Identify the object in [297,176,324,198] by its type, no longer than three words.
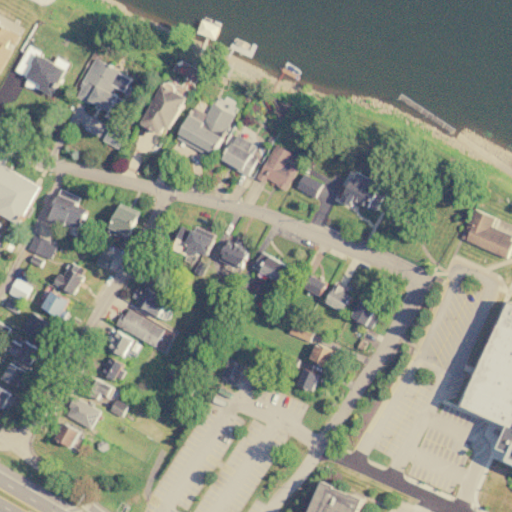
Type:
building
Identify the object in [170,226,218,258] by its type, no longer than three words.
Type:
house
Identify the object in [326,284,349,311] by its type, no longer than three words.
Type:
house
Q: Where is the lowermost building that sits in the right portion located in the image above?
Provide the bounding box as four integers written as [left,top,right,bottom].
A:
[310,482,370,512]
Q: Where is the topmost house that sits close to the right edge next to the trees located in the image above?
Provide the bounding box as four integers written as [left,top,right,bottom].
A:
[466,208,512,259]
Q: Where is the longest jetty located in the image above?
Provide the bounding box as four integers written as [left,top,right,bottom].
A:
[398,94,454,133]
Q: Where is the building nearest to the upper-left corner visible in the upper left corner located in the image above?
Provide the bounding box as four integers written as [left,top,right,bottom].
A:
[16,45,70,94]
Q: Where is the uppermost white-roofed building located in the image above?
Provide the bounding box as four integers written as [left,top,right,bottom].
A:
[198,18,222,42]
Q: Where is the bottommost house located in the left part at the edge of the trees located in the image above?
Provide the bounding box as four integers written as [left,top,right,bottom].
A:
[56,424,87,450]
